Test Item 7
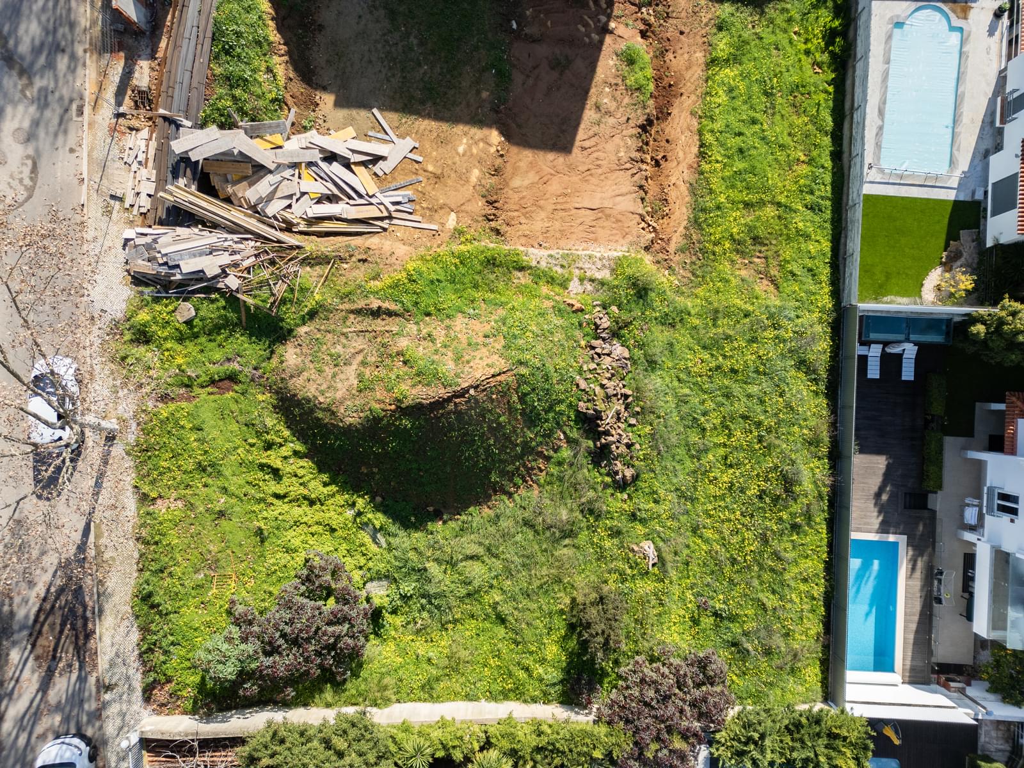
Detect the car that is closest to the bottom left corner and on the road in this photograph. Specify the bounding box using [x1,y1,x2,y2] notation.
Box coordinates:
[42,734,97,768]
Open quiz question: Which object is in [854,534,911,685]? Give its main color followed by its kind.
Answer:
blue swimming pool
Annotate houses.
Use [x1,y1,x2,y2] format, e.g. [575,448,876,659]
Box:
[956,392,1024,670]
[989,0,1024,248]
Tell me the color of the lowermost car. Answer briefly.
white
